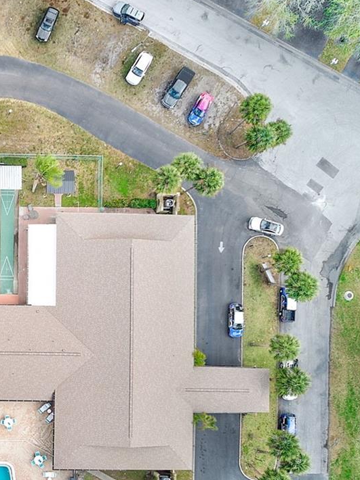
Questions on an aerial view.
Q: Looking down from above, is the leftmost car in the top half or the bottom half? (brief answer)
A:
top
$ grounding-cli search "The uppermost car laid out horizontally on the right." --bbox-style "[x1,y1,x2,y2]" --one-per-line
[247,217,285,236]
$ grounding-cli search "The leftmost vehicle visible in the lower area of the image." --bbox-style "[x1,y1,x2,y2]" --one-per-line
[227,302,245,338]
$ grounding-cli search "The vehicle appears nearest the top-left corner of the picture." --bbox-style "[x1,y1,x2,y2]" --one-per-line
[37,5,57,44]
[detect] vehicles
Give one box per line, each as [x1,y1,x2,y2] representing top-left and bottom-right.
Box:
[110,1,147,26]
[163,64,194,109]
[278,411,298,441]
[187,91,212,127]
[247,217,285,236]
[37,5,57,44]
[278,287,298,324]
[227,302,245,338]
[127,50,151,87]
